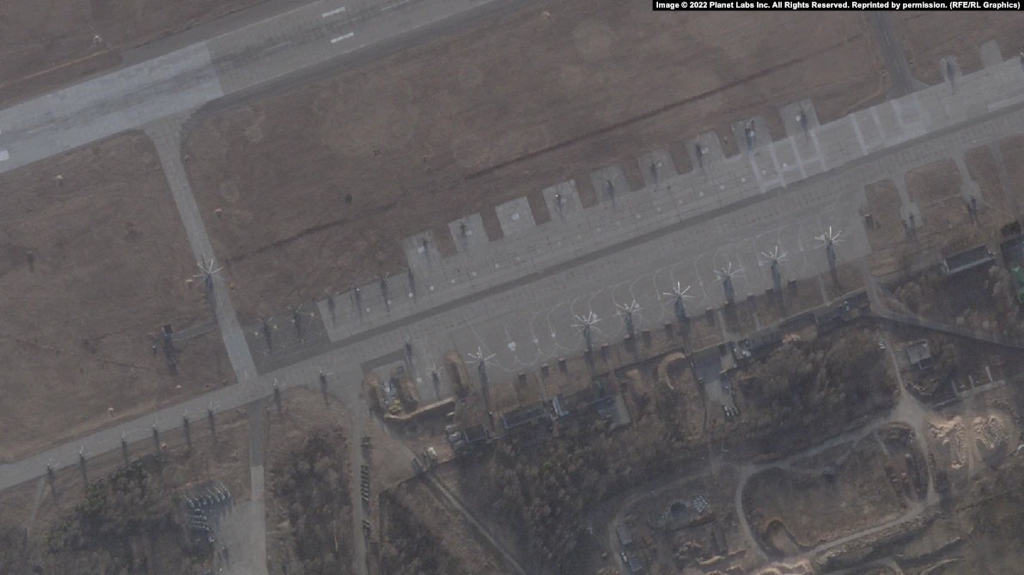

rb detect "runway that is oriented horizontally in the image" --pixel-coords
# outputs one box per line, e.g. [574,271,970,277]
[206,0,492,95]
